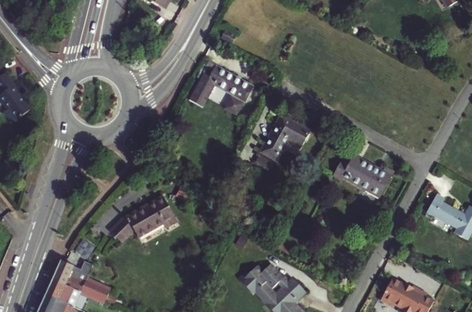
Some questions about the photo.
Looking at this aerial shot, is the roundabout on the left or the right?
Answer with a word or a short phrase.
left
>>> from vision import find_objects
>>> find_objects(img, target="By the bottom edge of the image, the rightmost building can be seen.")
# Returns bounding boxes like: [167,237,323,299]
[374,278,434,312]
